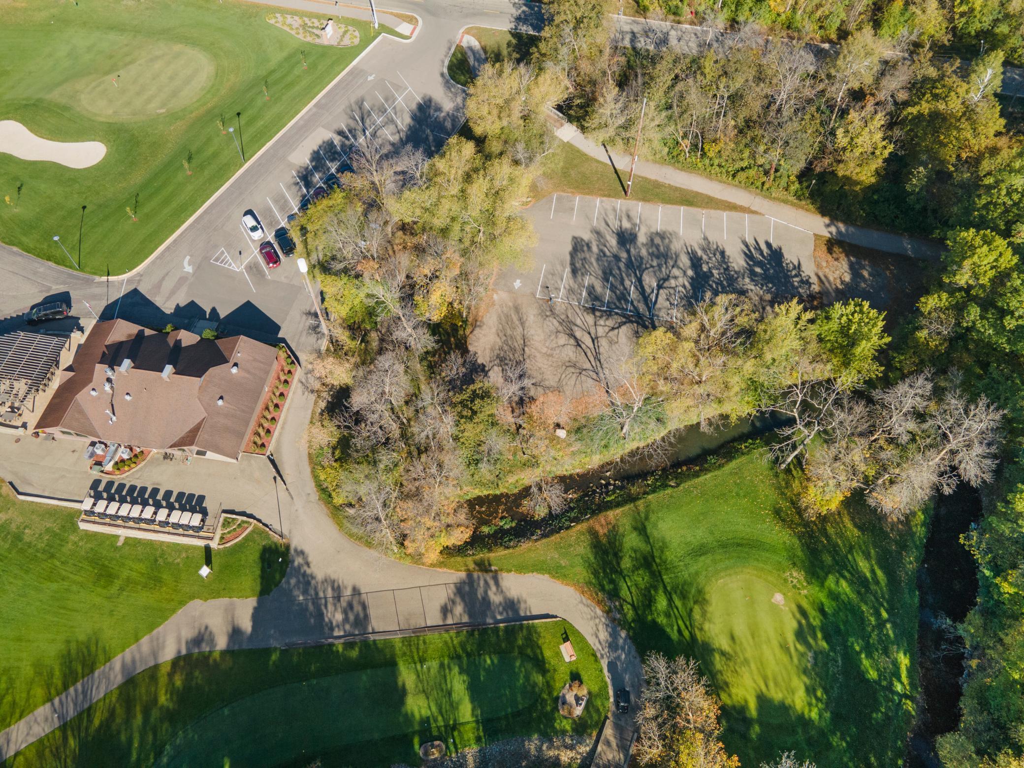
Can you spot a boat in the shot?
No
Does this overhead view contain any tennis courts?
No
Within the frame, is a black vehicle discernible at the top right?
No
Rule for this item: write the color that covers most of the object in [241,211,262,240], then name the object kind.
white car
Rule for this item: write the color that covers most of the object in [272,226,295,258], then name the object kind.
black car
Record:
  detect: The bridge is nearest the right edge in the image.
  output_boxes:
[586,711,640,768]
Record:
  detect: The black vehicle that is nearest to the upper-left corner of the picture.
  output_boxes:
[21,299,68,323]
